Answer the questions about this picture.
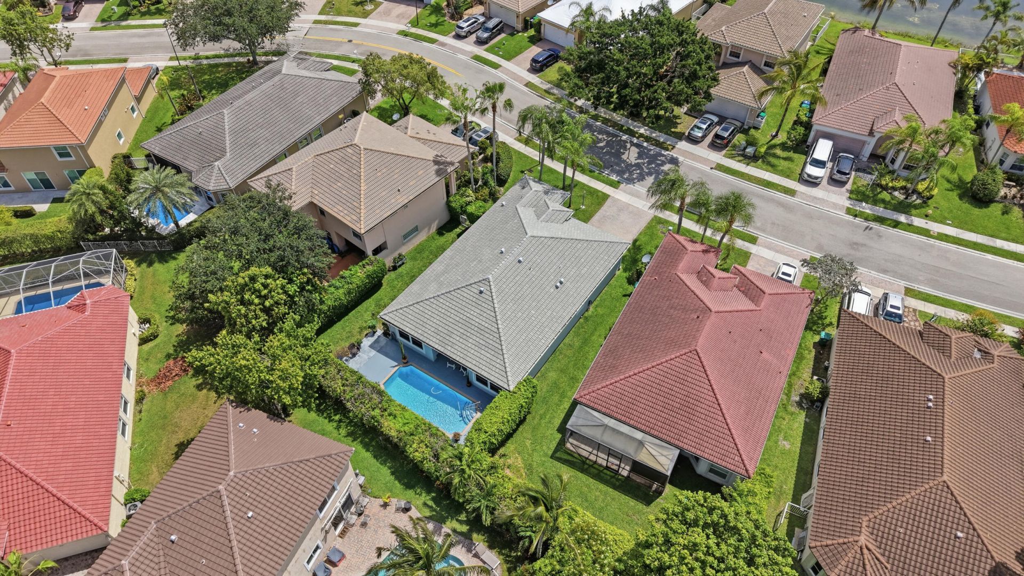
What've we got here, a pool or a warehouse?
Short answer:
pool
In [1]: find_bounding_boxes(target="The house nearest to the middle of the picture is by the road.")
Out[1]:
[378,171,632,397]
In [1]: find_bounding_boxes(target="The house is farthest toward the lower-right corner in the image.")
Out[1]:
[803,306,1024,576]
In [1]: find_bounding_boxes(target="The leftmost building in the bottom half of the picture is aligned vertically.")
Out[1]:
[0,283,138,575]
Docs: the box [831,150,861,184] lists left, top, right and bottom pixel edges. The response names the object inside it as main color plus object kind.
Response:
gray car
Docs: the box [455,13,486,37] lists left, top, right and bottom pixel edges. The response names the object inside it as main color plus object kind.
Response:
gray car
